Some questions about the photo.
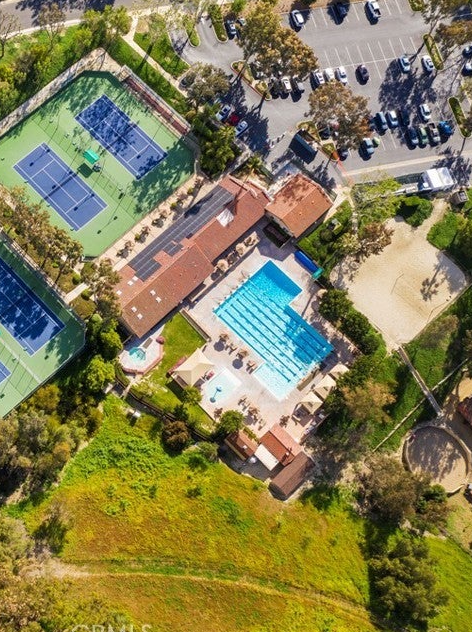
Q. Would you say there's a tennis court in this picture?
Yes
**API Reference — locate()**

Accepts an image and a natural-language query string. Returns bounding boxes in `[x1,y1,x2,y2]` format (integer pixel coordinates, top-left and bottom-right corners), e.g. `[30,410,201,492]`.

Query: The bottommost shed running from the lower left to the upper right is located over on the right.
[264,450,315,500]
